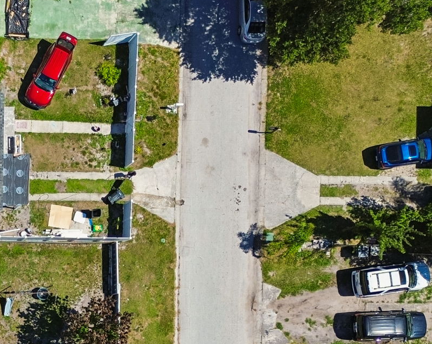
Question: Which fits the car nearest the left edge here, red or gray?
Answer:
red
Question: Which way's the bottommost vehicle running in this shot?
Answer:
horizontally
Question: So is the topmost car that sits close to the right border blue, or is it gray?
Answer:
blue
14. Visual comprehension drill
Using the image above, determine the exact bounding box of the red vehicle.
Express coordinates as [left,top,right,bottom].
[26,29,78,114]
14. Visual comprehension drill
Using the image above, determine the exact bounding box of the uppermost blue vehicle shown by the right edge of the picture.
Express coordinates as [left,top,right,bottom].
[371,133,432,170]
